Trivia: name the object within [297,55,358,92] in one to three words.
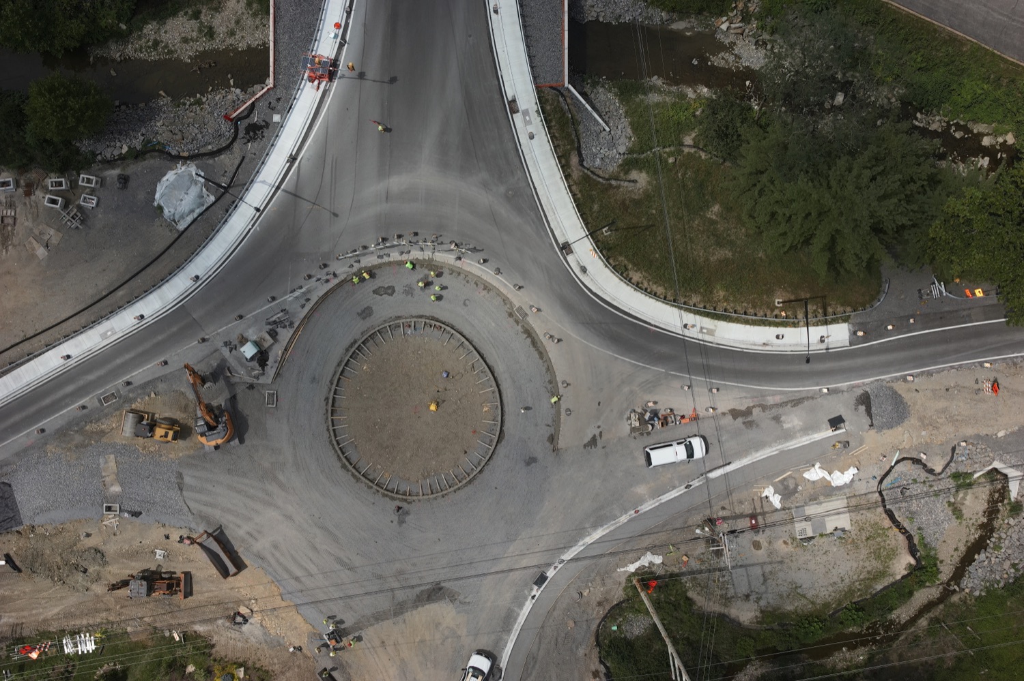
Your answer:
trailer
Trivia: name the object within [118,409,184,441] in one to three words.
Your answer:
work vehicle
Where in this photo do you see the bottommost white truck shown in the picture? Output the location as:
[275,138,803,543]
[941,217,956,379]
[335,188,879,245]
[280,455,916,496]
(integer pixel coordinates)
[462,650,491,681]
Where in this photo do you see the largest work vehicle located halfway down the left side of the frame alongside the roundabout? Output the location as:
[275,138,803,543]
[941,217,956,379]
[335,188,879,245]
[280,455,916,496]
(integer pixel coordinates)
[180,364,238,451]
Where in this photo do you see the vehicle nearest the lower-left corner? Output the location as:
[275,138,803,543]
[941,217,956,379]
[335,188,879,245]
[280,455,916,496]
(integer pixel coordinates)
[94,572,189,604]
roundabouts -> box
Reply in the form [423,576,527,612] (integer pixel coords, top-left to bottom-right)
[268,251,568,557]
